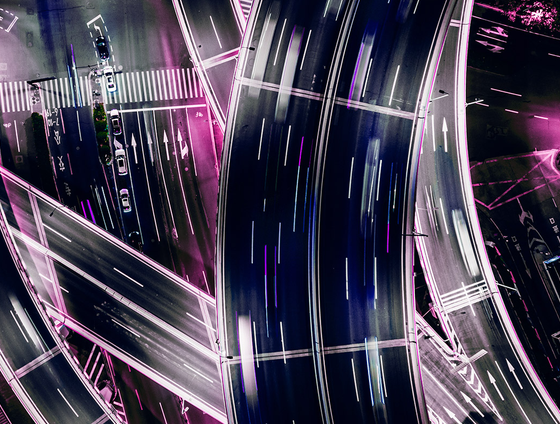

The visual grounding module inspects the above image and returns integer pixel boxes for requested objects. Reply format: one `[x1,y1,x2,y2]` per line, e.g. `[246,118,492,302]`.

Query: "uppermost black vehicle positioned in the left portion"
[95,35,108,62]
